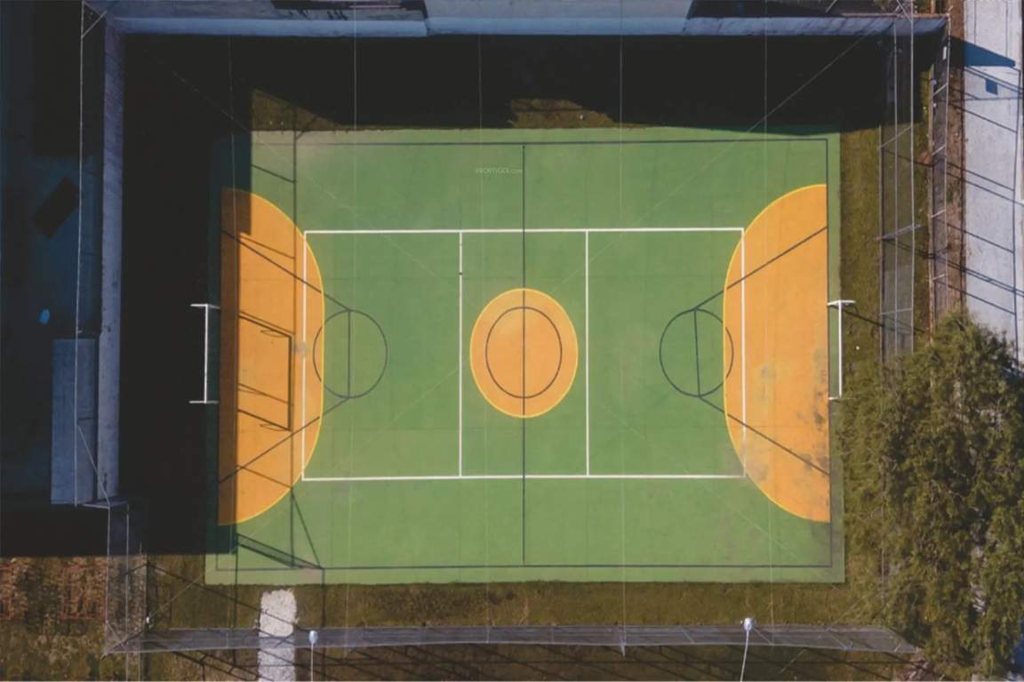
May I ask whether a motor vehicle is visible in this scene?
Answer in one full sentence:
No, I find no motor vehicle anywhere in the image.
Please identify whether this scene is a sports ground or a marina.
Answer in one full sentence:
This image shows a sports ground.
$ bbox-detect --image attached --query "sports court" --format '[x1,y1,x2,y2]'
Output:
[206,124,845,584]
